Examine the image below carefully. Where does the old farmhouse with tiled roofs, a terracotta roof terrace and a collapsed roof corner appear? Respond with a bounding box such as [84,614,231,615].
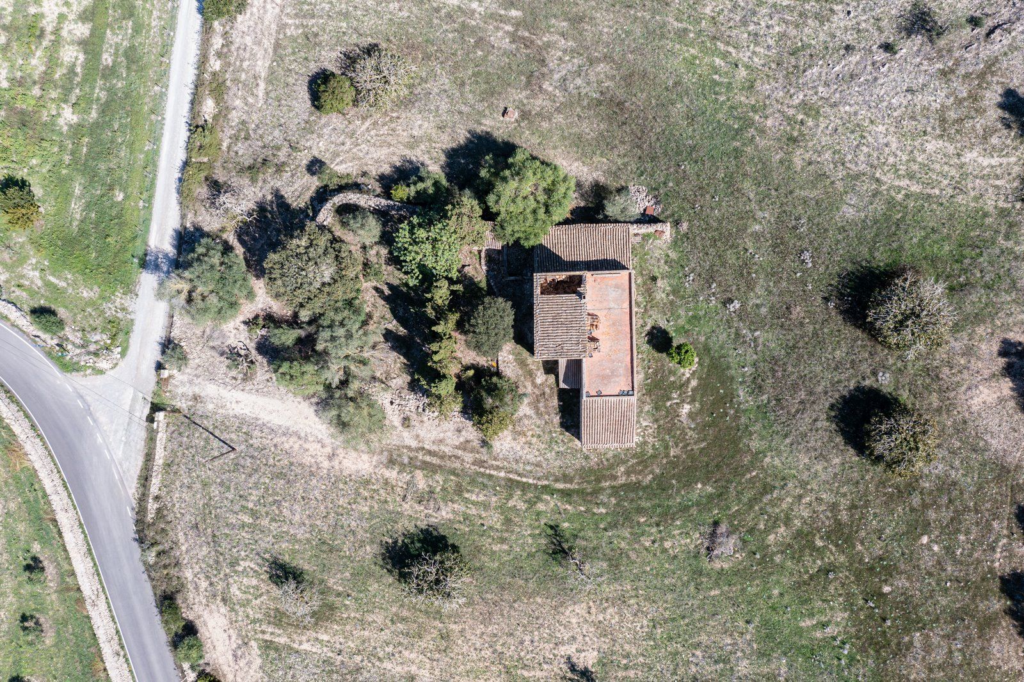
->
[532,222,636,448]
